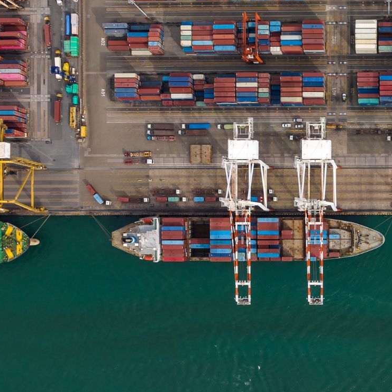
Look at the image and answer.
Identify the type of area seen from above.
port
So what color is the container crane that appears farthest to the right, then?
white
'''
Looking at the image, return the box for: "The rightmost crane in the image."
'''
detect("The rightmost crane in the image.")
[293,115,344,304]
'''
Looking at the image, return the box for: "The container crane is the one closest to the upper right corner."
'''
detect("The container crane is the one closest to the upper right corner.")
[241,12,265,67]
